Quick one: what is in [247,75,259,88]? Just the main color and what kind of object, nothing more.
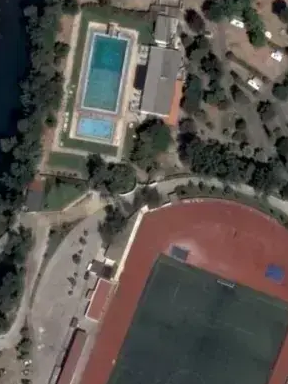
white vehicle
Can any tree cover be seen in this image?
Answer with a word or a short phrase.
Yes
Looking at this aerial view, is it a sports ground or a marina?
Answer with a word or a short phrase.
sports ground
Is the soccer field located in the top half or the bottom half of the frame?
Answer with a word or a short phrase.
bottom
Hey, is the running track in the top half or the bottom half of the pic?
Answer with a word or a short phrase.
bottom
